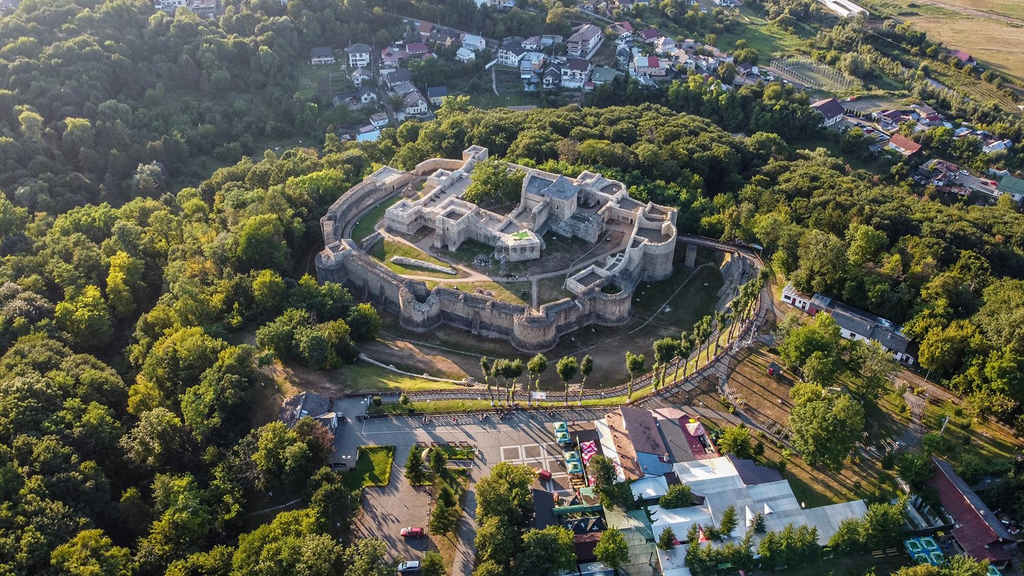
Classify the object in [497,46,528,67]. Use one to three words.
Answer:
house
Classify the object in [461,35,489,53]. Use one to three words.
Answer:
house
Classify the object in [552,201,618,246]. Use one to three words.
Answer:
building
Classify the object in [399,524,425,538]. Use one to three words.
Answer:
car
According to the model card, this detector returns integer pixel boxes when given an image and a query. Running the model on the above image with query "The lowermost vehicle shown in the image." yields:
[393,559,421,575]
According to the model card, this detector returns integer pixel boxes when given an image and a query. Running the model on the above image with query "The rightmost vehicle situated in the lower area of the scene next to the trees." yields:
[531,466,556,481]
